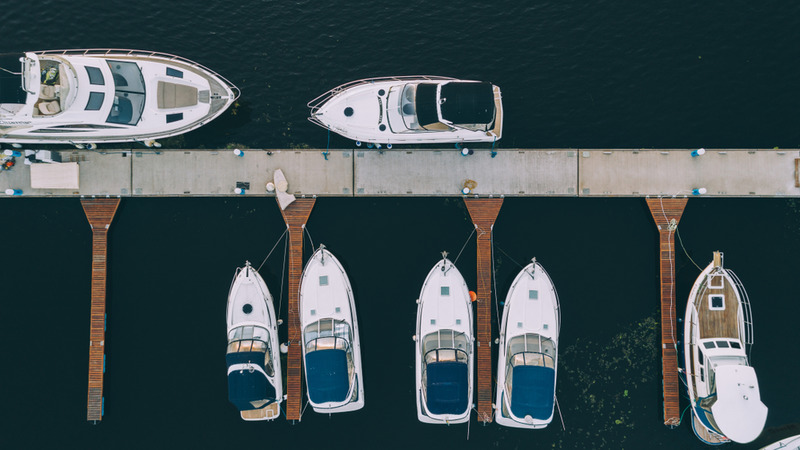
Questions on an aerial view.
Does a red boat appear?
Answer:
No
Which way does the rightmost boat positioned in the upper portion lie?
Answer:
from left to right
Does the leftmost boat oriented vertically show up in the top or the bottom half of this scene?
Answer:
bottom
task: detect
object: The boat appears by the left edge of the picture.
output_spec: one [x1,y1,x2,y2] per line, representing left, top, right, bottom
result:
[0,49,242,145]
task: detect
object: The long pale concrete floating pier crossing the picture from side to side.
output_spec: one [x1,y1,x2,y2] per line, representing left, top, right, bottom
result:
[0,150,800,198]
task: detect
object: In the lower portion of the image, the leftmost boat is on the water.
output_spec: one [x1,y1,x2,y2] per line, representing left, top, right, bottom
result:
[226,259,283,422]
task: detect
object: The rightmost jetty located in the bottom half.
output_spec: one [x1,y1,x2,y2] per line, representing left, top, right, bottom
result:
[643,196,689,429]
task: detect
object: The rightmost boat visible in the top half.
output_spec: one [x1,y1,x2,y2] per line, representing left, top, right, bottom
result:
[308,76,504,145]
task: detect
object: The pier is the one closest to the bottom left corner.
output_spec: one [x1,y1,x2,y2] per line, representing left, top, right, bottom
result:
[80,196,123,426]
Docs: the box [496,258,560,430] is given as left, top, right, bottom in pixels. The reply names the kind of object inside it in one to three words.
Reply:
boat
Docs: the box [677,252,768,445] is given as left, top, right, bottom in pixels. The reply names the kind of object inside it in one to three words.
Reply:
boat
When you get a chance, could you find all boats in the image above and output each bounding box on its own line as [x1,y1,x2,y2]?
[496,258,560,430]
[416,252,474,423]
[0,49,242,145]
[308,76,504,145]
[677,252,768,445]
[762,434,800,450]
[298,243,366,416]
[226,259,283,422]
